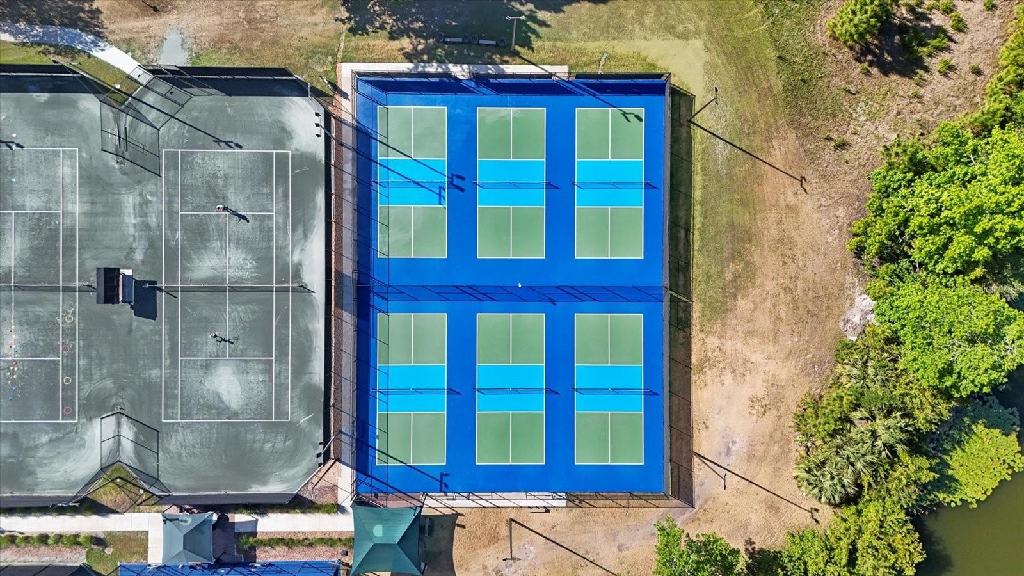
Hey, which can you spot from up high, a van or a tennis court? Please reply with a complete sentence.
There is a tennis court in the scene.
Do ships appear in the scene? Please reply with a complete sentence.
No, the scene contains no ship.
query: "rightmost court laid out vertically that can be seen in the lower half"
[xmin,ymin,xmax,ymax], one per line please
[575,313,644,465]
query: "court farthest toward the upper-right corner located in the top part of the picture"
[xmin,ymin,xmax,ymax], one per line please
[576,108,644,259]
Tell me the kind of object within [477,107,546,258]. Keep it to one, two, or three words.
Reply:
sports court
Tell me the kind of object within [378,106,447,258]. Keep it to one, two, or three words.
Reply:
sports court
